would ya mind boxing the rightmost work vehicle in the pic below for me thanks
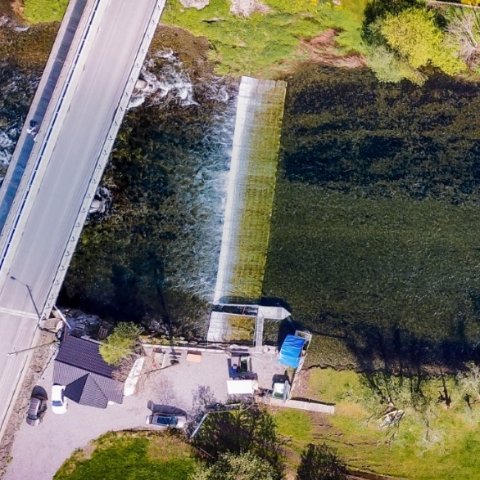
[269,380,288,405]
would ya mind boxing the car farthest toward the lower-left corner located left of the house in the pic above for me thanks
[21,398,44,430]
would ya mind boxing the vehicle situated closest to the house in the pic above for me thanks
[45,384,66,418]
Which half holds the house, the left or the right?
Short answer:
left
